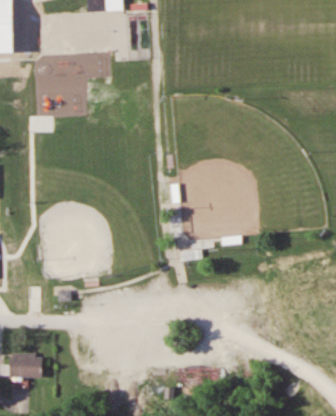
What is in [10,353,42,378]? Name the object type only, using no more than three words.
house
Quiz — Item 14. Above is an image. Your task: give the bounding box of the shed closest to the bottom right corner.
[176,366,221,382]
